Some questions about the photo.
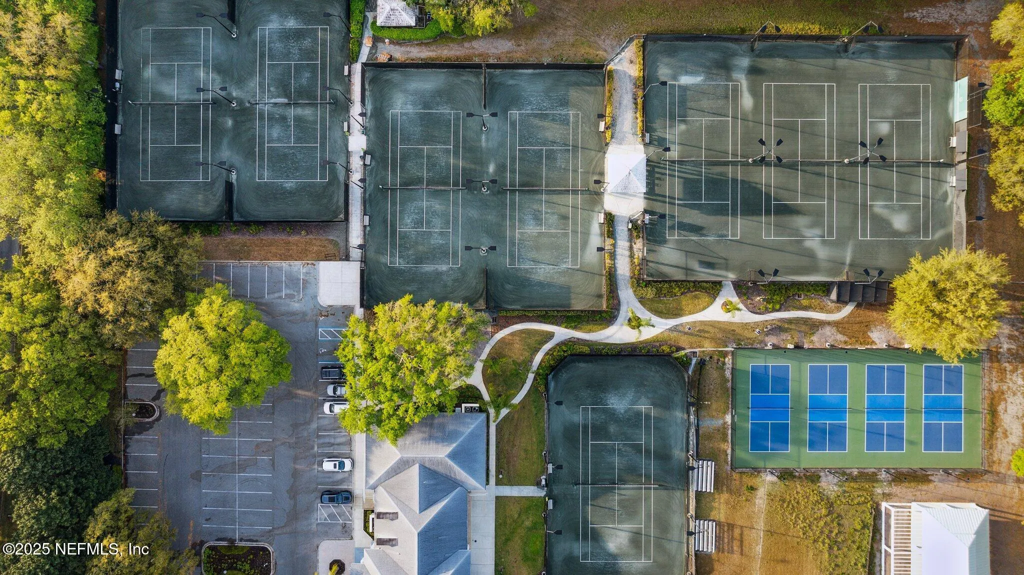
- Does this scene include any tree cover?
Yes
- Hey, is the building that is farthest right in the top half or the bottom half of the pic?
bottom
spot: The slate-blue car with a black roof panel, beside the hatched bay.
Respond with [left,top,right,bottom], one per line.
[321,489,352,506]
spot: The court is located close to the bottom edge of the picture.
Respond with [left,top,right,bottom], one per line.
[547,356,690,575]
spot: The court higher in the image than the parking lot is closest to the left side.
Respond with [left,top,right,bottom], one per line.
[118,0,234,220]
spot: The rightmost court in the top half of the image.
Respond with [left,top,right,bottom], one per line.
[847,42,956,281]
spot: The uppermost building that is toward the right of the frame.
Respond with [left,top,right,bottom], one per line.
[606,154,647,193]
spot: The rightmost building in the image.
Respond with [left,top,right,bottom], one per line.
[911,503,989,575]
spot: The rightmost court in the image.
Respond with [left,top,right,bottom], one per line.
[923,364,963,452]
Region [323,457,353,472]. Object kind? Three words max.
car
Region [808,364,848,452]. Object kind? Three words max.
sports court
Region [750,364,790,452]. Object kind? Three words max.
sports court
